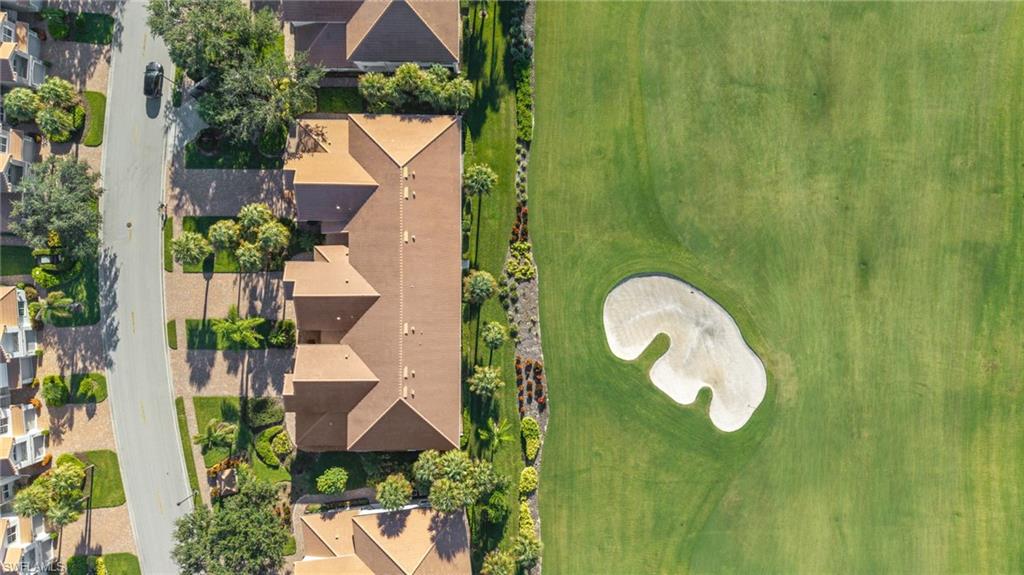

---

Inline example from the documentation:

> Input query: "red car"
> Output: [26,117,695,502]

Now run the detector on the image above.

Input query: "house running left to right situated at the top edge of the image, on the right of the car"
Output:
[279,0,460,75]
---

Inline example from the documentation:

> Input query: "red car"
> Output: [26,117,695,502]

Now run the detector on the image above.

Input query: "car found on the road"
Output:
[145,63,164,99]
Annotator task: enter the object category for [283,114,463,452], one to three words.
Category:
house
